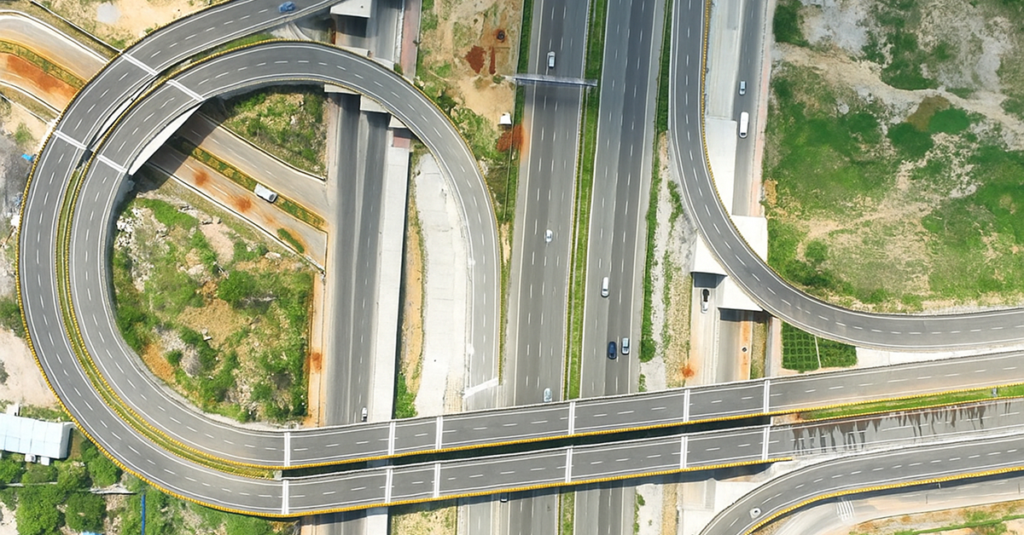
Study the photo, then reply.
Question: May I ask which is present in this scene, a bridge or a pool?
bridge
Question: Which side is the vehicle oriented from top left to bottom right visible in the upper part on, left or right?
left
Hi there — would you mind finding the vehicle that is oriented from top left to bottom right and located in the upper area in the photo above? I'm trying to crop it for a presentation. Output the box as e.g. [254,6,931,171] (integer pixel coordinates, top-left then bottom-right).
[252,183,279,204]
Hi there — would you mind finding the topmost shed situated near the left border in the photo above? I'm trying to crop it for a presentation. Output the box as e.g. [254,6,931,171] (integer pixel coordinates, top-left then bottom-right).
[0,411,76,459]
